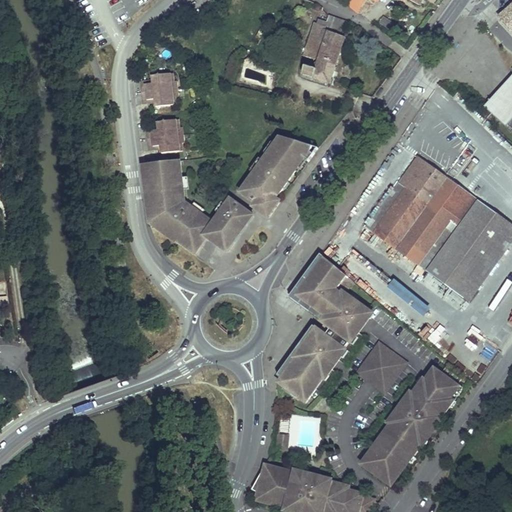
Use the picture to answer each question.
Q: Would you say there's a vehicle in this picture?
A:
Yes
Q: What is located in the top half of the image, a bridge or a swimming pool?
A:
swimming pool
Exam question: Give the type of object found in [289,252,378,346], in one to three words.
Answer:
building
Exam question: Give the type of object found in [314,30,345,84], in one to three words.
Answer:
house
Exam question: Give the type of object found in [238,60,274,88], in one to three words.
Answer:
swimming pool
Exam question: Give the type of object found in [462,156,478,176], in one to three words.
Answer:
vehicle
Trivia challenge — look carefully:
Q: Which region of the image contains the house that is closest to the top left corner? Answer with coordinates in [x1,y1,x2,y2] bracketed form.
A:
[142,72,177,107]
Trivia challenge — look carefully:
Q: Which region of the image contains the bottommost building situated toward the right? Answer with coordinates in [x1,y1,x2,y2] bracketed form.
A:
[251,462,376,512]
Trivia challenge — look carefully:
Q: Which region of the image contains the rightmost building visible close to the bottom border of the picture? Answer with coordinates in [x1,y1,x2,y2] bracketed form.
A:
[360,365,464,486]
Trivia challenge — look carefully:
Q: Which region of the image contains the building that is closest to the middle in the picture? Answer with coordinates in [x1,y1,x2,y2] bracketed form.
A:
[202,192,254,250]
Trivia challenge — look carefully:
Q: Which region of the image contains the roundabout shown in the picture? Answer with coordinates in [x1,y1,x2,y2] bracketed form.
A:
[171,264,272,380]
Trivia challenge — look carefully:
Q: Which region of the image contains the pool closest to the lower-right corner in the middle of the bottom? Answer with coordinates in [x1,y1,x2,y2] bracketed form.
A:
[288,415,321,450]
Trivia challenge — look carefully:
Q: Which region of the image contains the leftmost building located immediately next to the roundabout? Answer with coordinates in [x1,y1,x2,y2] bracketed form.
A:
[139,160,210,254]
